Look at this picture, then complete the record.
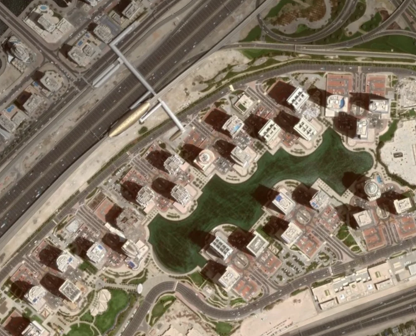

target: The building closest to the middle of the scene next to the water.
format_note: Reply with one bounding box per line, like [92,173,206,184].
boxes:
[195,148,221,175]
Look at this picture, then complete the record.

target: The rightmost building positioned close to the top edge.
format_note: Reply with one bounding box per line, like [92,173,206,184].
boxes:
[119,0,148,23]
